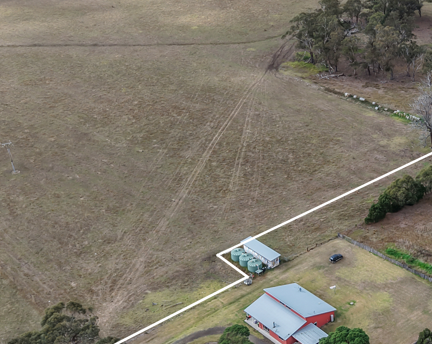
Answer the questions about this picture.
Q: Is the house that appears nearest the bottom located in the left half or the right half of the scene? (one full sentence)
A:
It is on the right.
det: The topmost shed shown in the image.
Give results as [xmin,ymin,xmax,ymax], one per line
[241,237,282,267]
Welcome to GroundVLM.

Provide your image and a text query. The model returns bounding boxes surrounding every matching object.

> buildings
[244,280,337,344]
[241,237,282,267]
